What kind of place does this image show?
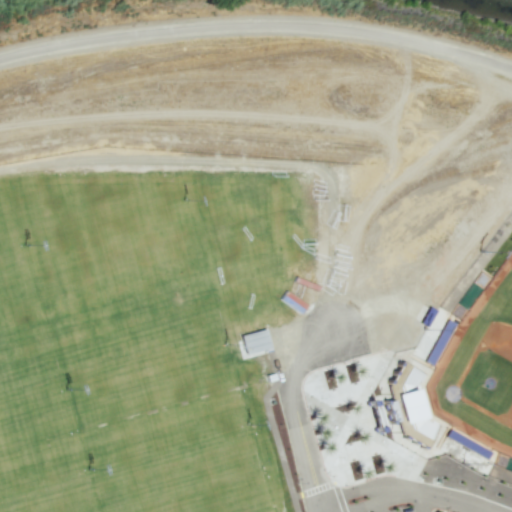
sports ground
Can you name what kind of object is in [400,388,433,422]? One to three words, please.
building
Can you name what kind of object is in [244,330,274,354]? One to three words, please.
shed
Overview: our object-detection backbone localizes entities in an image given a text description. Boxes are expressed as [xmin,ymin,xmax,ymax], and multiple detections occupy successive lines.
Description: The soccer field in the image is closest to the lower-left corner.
[0,168,320,512]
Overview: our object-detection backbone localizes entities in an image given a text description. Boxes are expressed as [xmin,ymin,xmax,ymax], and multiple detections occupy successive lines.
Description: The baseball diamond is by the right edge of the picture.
[426,256,512,460]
